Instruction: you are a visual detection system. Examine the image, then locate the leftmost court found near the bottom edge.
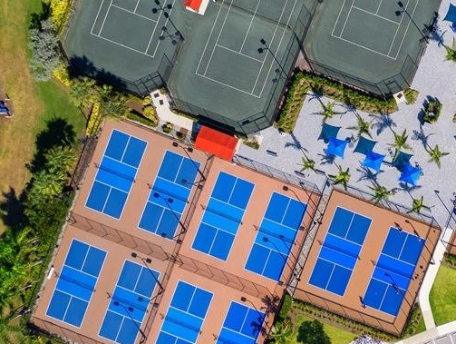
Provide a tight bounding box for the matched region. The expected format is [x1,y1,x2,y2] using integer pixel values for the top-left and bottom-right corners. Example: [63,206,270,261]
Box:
[30,219,121,344]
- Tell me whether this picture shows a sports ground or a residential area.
sports ground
